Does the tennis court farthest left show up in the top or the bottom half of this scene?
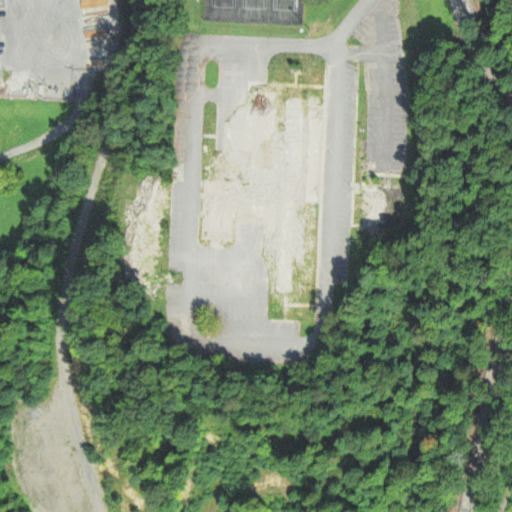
top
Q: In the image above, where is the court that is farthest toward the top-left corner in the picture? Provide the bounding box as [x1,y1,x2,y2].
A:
[204,0,240,23]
